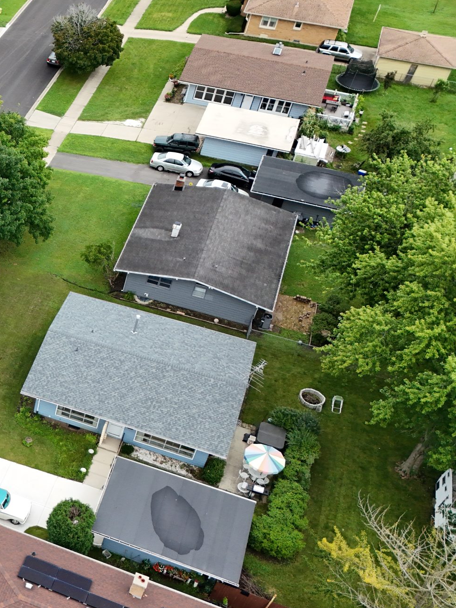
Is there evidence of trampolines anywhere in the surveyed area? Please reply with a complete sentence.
Yes, there's a trampoline down there.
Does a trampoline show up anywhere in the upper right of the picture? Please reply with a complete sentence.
Yes, a trampoline is visible in the upper right of the picture.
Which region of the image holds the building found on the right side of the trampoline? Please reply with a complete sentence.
The building found on the right side of the trampoline appears toward the top right of the photo.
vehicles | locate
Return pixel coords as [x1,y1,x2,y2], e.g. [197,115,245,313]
[151,152,205,177]
[46,48,63,66]
[313,41,359,67]
[155,130,202,157]
[0,483,42,524]
[196,176,253,197]
[205,160,257,186]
